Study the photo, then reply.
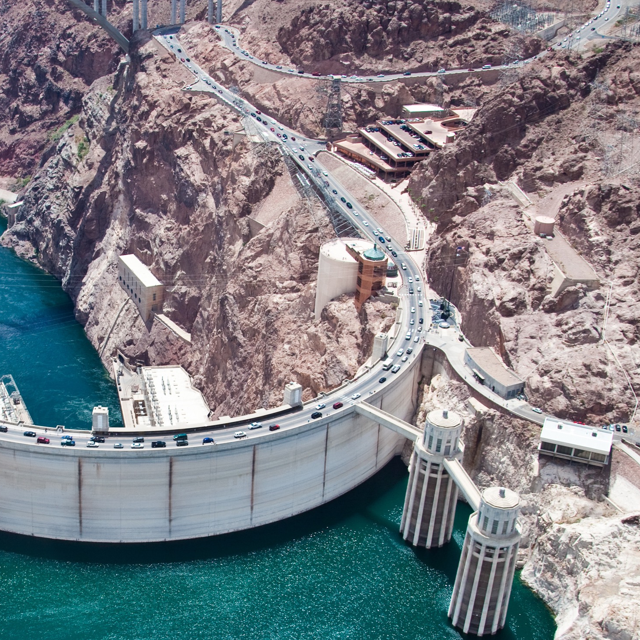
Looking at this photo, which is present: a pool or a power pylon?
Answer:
power pylon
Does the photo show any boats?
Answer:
No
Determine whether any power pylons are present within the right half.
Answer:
Yes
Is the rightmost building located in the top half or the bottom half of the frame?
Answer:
bottom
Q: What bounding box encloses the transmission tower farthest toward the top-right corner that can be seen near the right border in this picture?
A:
[618,5,637,41]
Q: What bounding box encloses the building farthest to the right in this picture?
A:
[535,416,614,486]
